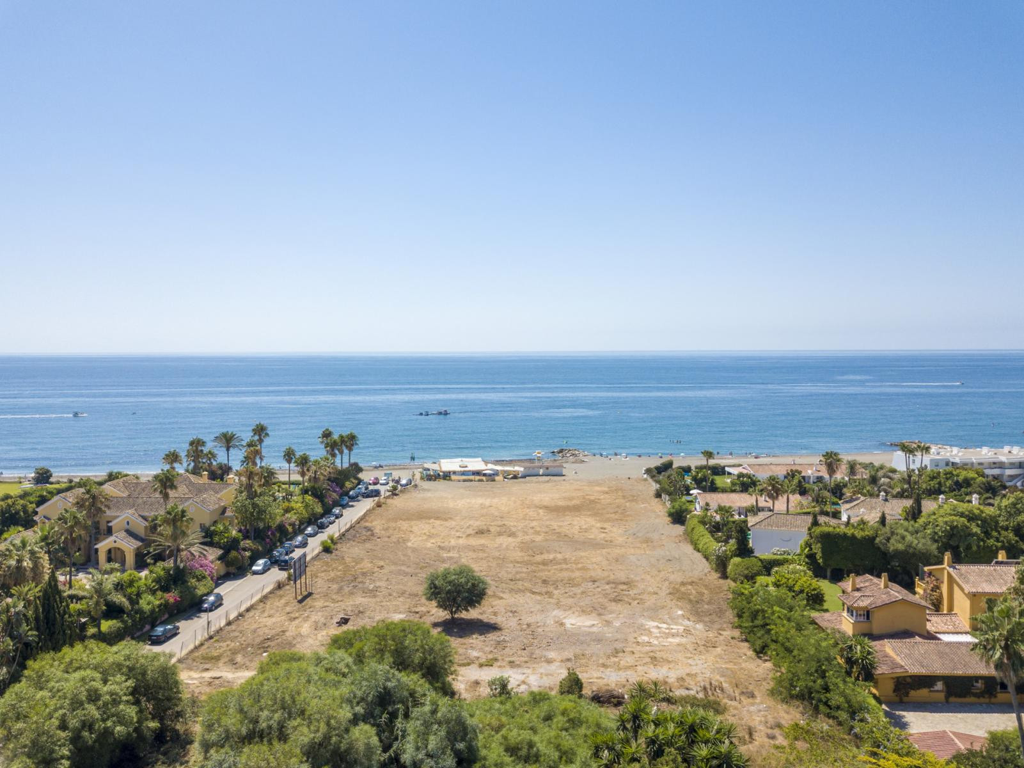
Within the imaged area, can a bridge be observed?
No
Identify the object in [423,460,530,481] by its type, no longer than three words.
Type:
building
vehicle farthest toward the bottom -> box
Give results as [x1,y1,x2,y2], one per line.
[149,625,180,643]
